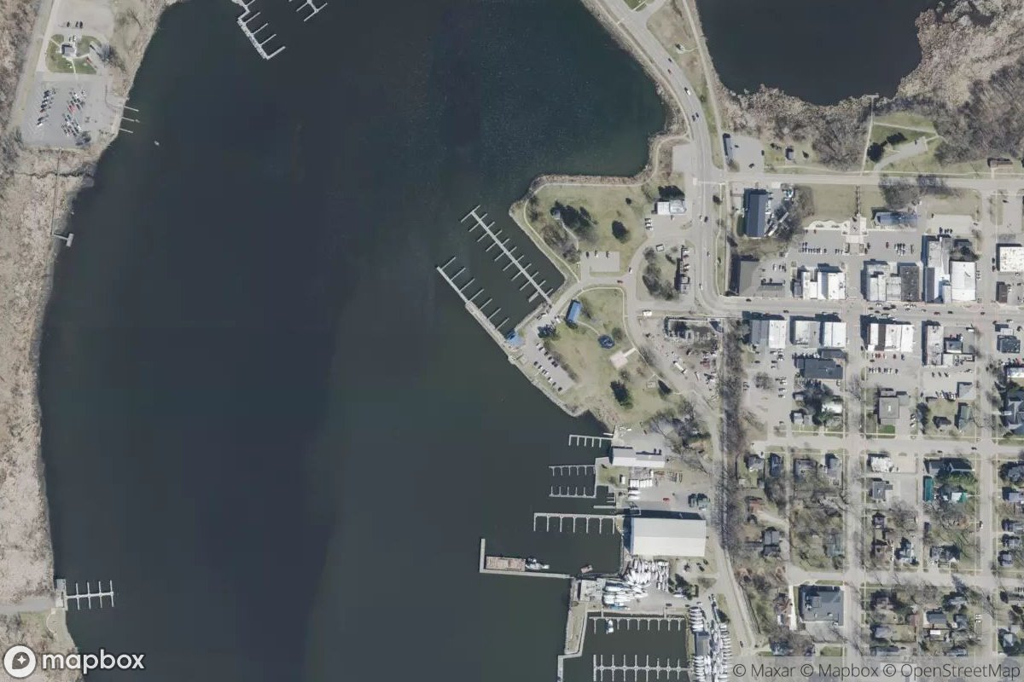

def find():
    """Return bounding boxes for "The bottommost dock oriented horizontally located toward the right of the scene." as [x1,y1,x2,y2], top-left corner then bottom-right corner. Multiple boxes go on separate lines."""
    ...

[593,655,688,681]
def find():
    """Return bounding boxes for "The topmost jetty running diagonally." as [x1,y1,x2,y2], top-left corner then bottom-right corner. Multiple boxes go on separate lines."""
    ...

[238,0,285,59]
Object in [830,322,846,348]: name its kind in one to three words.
building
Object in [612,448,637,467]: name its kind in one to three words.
shed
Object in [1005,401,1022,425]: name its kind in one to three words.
house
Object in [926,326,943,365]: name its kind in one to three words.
building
